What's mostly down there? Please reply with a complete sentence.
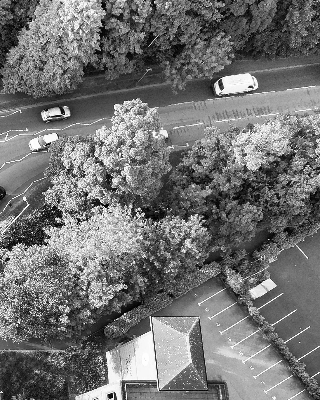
The bulk of the photo consists of trees.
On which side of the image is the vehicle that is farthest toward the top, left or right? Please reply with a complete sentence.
It is on the right.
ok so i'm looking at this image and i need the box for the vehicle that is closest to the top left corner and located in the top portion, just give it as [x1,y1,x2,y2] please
[40,104,72,125]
